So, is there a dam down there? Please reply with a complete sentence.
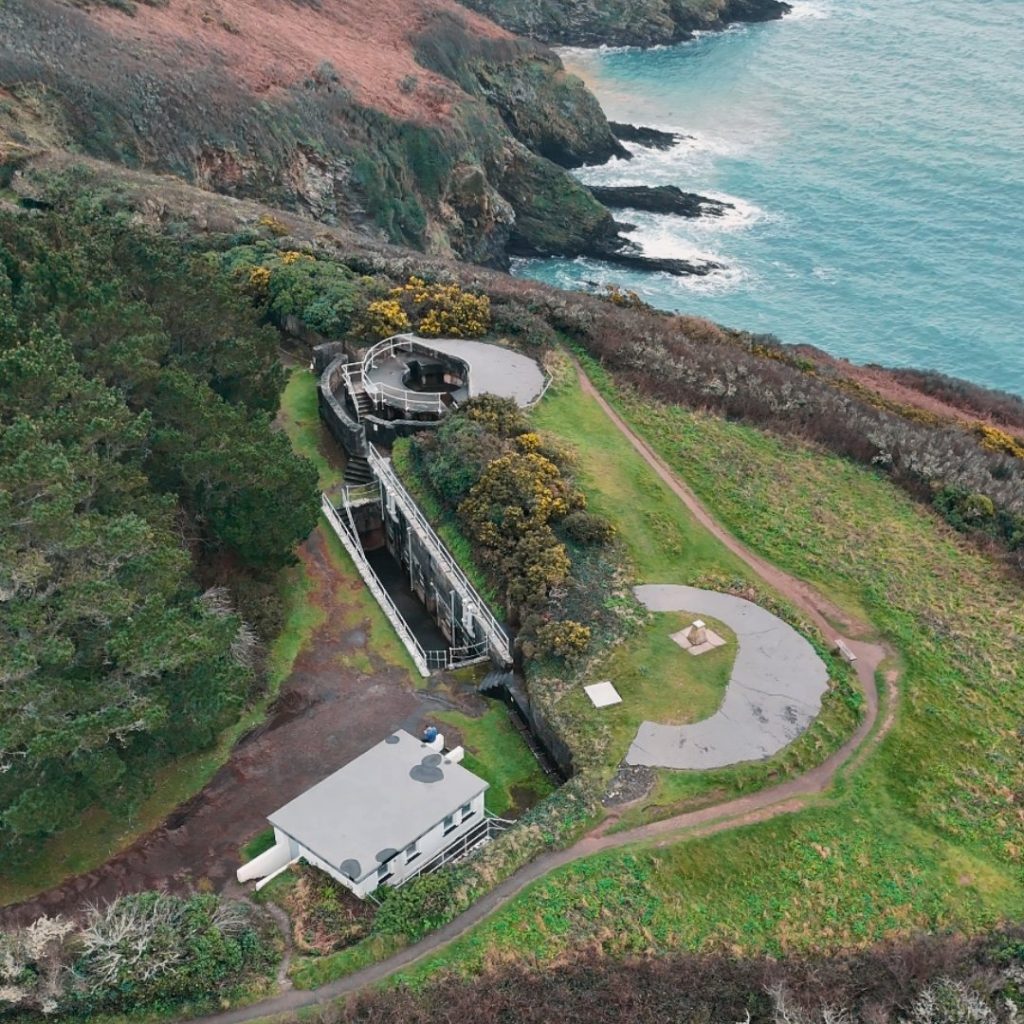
No, there appears to be no dam in this shot.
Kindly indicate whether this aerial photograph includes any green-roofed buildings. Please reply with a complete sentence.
No, there appears to be no green-roofed building in this shot.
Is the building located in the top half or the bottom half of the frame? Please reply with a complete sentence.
It is in the bottom half that the building appears.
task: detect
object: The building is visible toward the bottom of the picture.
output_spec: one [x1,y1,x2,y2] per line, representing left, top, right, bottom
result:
[238,729,486,908]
